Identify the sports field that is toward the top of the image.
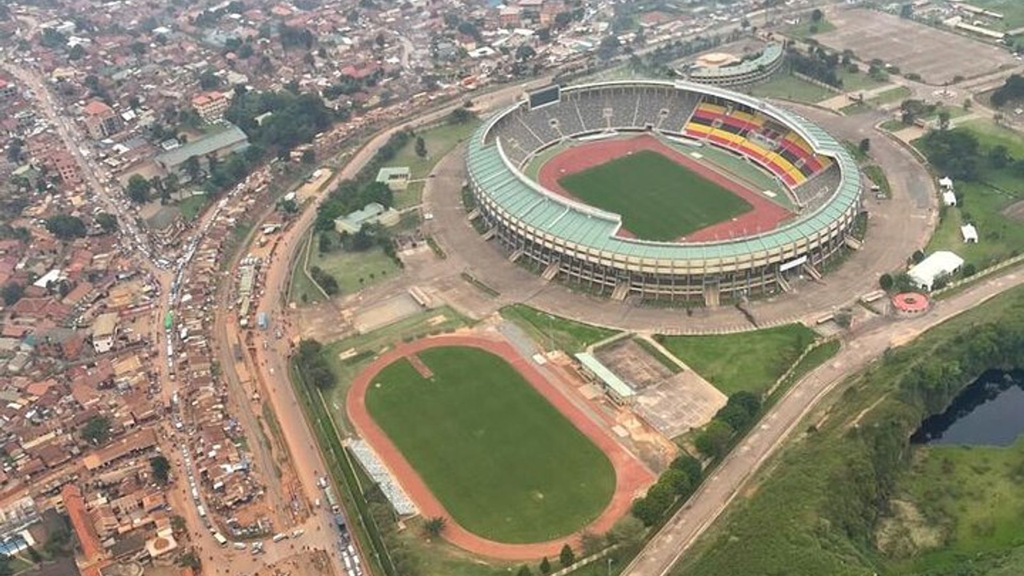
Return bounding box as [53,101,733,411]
[560,149,755,240]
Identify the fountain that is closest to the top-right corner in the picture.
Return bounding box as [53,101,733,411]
[929,85,957,99]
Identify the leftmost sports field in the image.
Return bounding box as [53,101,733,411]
[365,345,616,544]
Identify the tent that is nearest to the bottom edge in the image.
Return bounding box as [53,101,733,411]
[908,250,965,286]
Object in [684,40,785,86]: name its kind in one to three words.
stadium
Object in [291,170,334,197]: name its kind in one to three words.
building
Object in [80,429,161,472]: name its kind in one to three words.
shed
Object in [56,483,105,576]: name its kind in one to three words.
house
